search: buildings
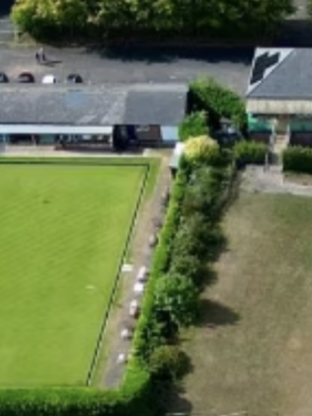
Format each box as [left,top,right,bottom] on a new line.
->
[246,41,312,168]
[0,83,198,157]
